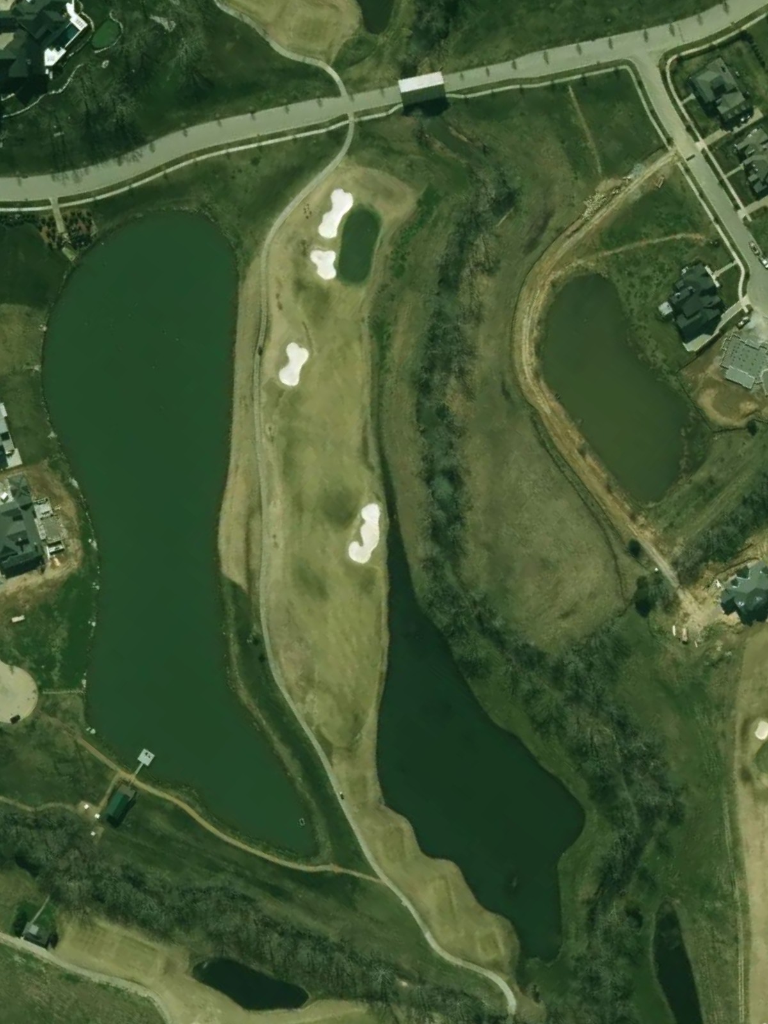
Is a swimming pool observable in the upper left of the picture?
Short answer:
Yes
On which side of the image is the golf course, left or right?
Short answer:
left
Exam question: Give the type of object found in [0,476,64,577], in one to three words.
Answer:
house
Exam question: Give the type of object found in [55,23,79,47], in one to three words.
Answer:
swimming pool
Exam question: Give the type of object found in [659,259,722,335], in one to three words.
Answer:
house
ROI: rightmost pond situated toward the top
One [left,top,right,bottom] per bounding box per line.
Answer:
[541,273,690,505]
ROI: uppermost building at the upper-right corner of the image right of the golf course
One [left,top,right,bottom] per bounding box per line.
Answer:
[686,55,753,123]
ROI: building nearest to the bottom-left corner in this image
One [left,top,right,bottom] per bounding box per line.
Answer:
[22,922,48,945]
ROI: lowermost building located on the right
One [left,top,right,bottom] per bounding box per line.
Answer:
[721,559,768,628]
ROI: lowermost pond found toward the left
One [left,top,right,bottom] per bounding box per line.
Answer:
[193,957,309,1010]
